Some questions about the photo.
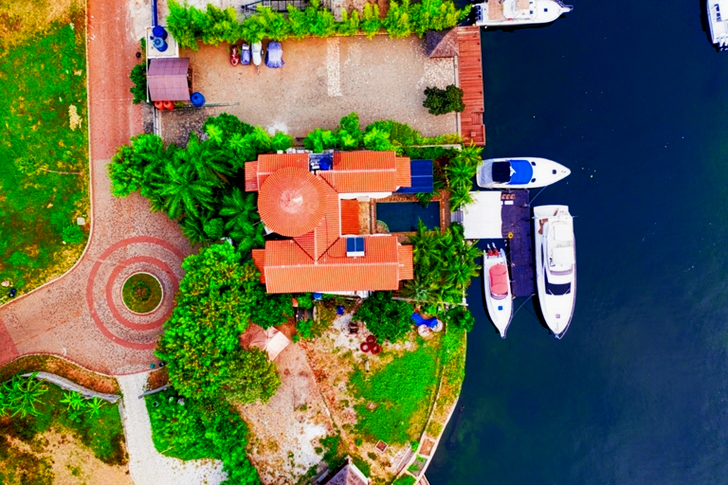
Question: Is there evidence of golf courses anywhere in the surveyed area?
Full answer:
No, I can see no golf course in this picture.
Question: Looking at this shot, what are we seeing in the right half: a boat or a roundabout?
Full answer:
Looking in the right half, you will find a boat.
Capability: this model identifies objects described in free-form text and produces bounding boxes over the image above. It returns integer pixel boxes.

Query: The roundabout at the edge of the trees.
[87,238,196,348]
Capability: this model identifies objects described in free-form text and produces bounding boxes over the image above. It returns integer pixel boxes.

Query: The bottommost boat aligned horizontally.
[473,156,573,188]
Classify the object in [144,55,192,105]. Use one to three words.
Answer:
shed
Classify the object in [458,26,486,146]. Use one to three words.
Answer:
pier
